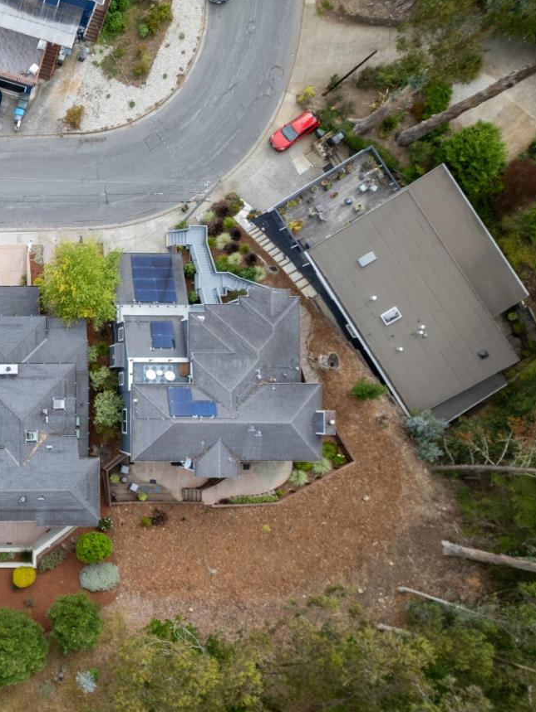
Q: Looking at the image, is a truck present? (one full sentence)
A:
No, no truck is visible in the scene.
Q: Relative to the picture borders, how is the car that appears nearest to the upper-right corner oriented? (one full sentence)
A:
In this picture, the car that appears nearest to the upper-right corner is oriented at an angle.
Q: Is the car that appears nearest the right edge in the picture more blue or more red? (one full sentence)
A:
The color of the car that appears nearest the right edge is red.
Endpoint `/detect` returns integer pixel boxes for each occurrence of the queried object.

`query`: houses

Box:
[0,285,102,567]
[104,252,337,505]
[0,0,117,95]
[260,145,531,424]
